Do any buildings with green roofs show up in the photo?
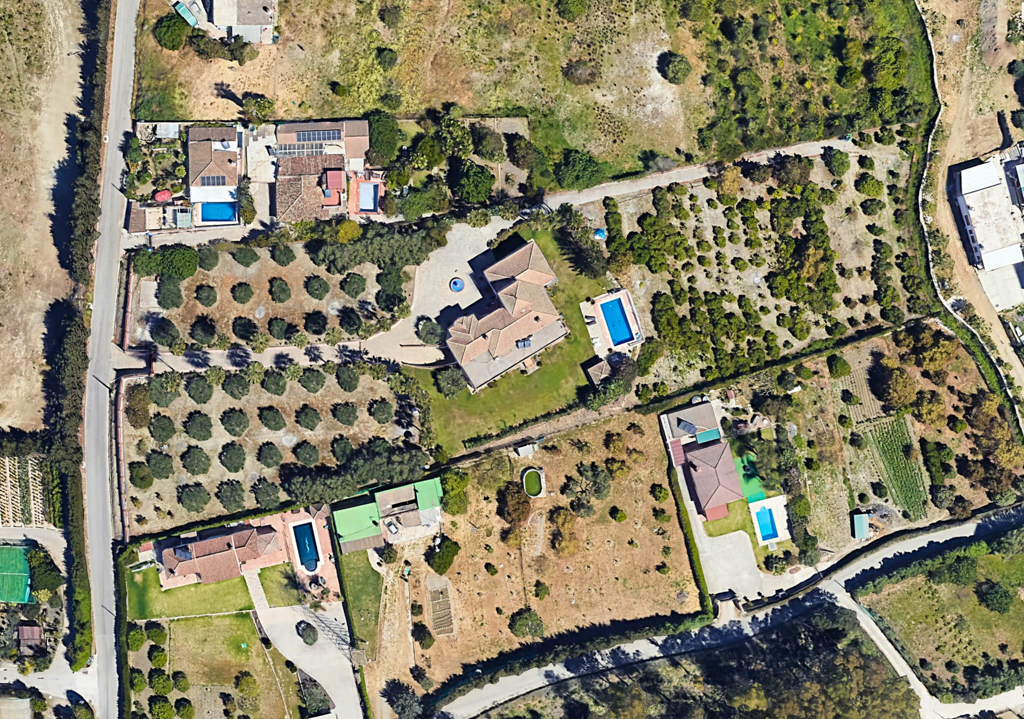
Yes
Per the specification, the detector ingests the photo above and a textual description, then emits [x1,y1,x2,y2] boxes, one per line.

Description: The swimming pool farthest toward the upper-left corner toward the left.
[195,202,238,224]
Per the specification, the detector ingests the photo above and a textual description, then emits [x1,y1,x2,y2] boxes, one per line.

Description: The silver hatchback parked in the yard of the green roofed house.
[381,517,399,537]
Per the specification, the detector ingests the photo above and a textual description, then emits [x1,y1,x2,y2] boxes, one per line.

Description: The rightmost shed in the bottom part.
[853,514,869,538]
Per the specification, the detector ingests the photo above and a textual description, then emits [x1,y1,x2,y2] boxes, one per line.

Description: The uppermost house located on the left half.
[214,0,274,44]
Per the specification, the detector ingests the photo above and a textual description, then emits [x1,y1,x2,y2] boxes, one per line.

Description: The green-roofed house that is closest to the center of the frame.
[333,478,443,554]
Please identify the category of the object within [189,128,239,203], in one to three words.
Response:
house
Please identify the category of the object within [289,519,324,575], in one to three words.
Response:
swimming pool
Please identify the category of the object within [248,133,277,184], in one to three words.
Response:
building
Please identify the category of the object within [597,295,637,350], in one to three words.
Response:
swimming pool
